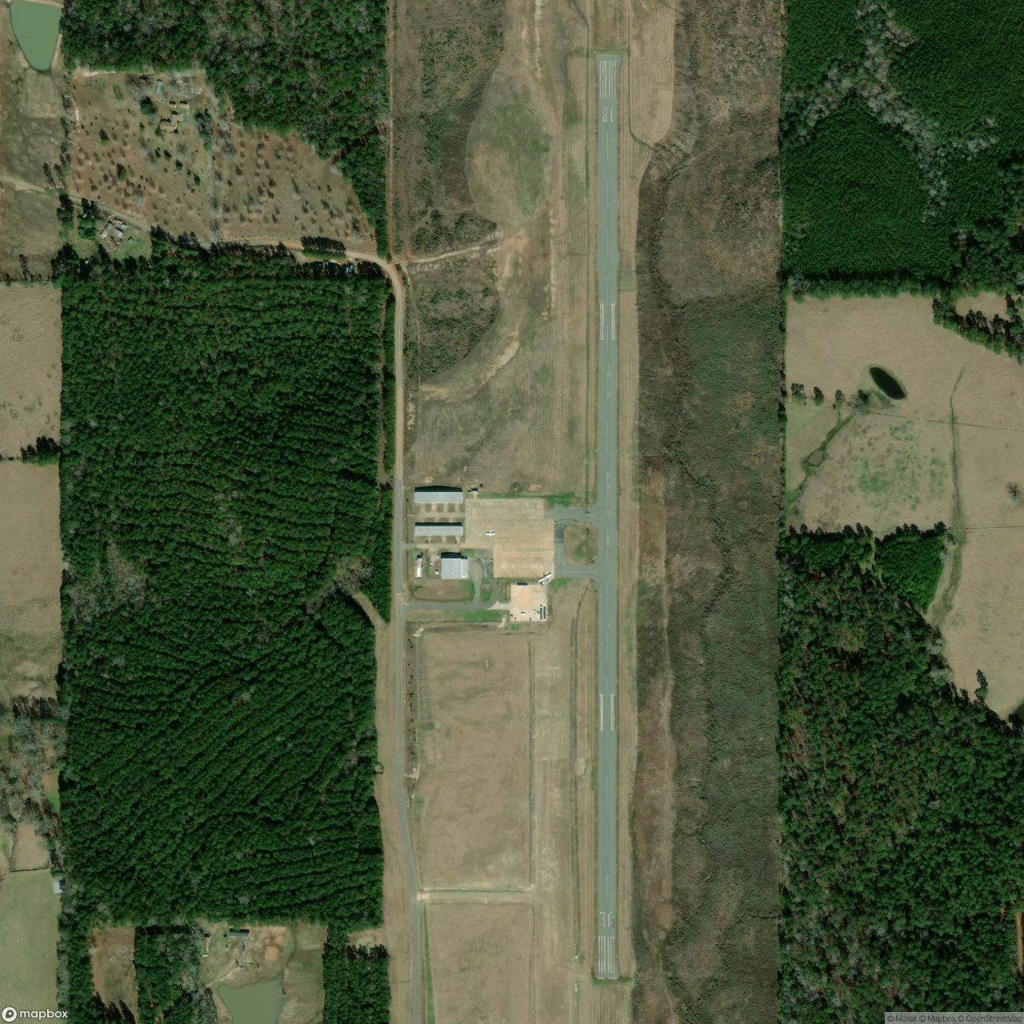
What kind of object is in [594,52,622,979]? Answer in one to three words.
runway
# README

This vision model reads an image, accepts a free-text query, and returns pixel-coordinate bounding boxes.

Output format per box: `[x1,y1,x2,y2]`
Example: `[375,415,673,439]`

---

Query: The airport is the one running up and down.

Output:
[466,52,622,979]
